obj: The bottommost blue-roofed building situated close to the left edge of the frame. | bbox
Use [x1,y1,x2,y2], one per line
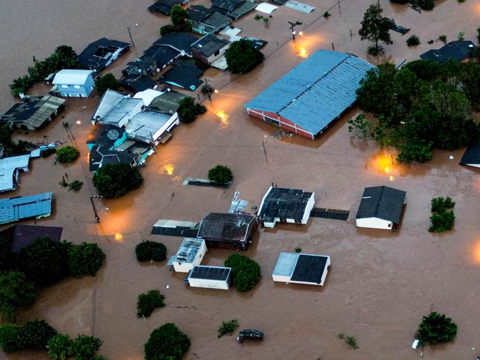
[0,192,53,226]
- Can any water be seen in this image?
Yes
